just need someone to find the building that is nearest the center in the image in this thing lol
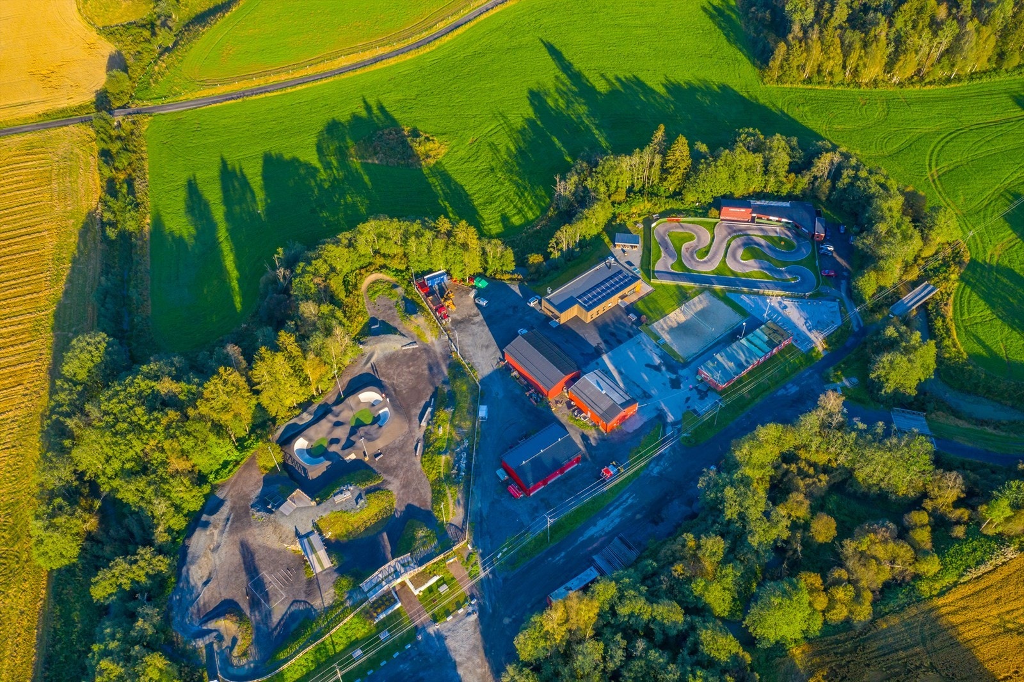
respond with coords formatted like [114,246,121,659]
[503,330,582,399]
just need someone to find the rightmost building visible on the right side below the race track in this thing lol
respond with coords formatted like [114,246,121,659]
[700,321,792,393]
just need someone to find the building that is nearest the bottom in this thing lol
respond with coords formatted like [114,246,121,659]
[499,423,581,498]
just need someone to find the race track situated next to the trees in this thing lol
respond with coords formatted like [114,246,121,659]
[654,222,819,292]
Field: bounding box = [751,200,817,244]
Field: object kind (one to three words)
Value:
building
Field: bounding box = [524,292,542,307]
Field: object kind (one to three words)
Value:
vehicle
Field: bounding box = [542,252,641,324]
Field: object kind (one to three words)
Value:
building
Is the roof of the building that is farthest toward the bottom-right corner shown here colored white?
No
